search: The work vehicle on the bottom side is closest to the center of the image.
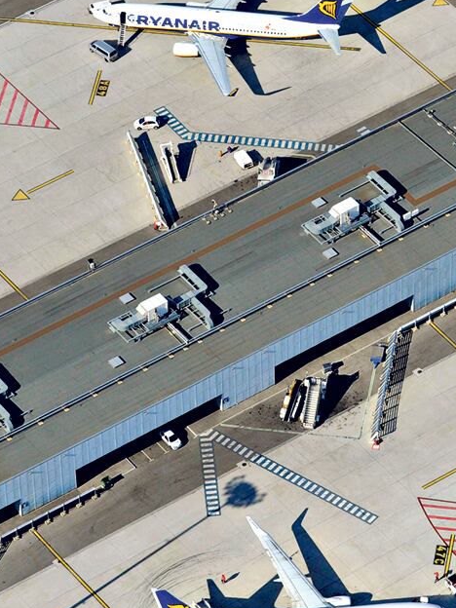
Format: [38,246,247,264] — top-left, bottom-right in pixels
[281,373,302,417]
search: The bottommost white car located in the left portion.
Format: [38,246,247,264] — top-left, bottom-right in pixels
[158,427,185,452]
